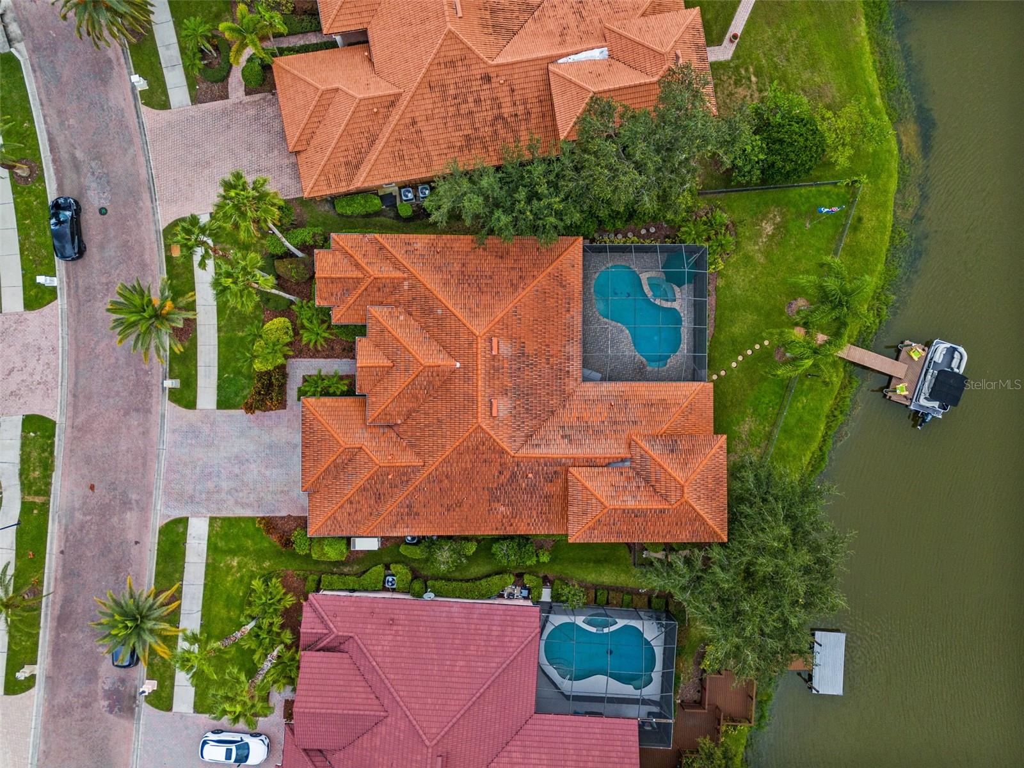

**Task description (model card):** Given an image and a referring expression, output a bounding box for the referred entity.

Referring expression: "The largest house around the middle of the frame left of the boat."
[301,234,728,543]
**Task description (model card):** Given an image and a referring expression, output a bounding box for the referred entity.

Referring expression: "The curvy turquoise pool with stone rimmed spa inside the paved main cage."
[591,262,684,370]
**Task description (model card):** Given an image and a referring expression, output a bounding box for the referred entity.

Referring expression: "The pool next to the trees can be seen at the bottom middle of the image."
[541,617,659,693]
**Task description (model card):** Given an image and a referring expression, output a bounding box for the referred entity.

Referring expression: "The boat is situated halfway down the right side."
[911,337,970,427]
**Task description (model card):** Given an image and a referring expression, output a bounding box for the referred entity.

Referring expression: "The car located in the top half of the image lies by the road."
[43,194,84,259]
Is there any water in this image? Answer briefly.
Yes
